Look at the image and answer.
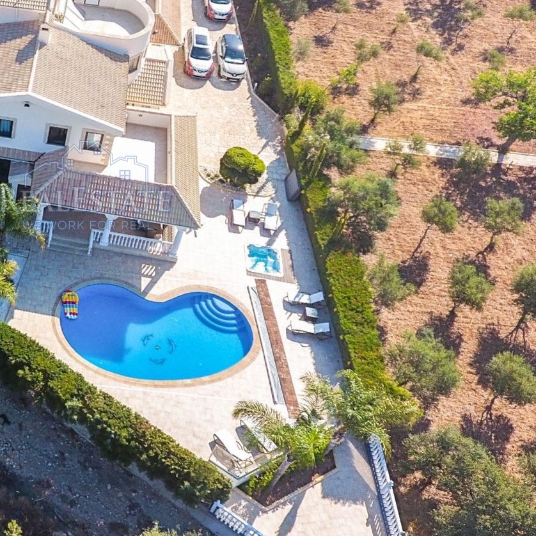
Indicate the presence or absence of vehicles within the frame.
Yes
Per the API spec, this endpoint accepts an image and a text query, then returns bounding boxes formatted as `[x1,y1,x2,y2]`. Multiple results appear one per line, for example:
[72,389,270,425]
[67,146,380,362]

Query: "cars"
[211,37,249,85]
[177,32,216,80]
[198,0,234,23]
